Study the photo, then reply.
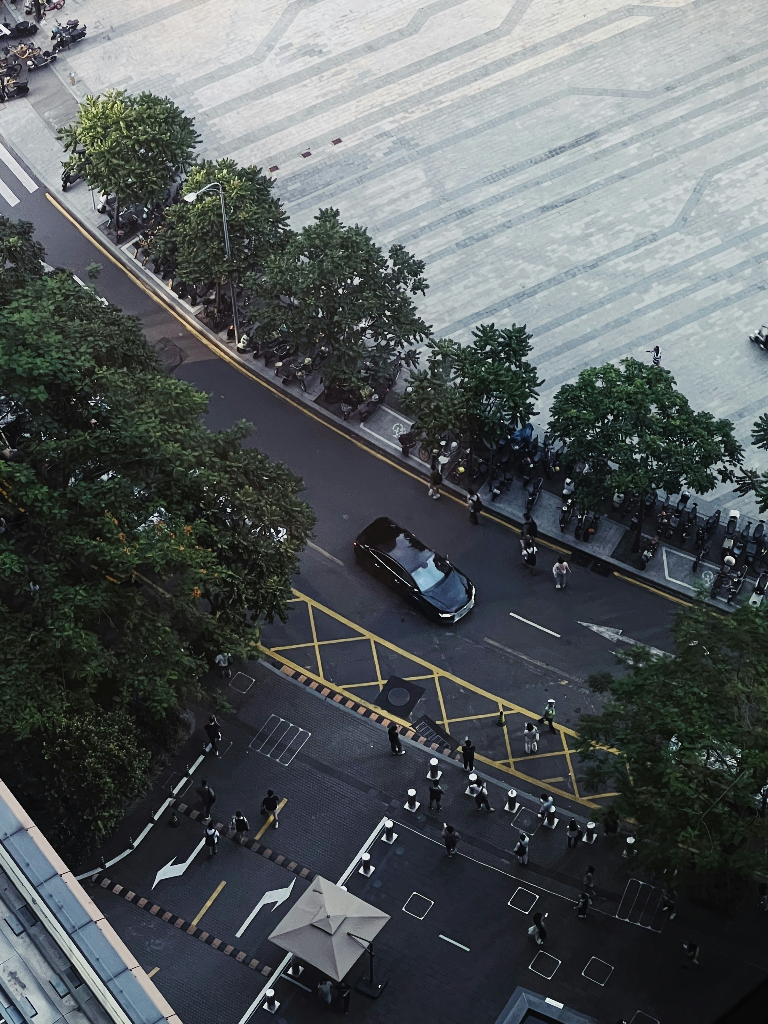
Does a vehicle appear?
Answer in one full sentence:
Yes, there's a vehicle here.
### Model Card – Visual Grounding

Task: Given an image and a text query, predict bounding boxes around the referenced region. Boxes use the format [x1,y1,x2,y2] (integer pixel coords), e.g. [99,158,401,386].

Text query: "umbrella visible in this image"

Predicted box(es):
[268,876,391,998]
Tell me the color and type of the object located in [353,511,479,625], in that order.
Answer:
black car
